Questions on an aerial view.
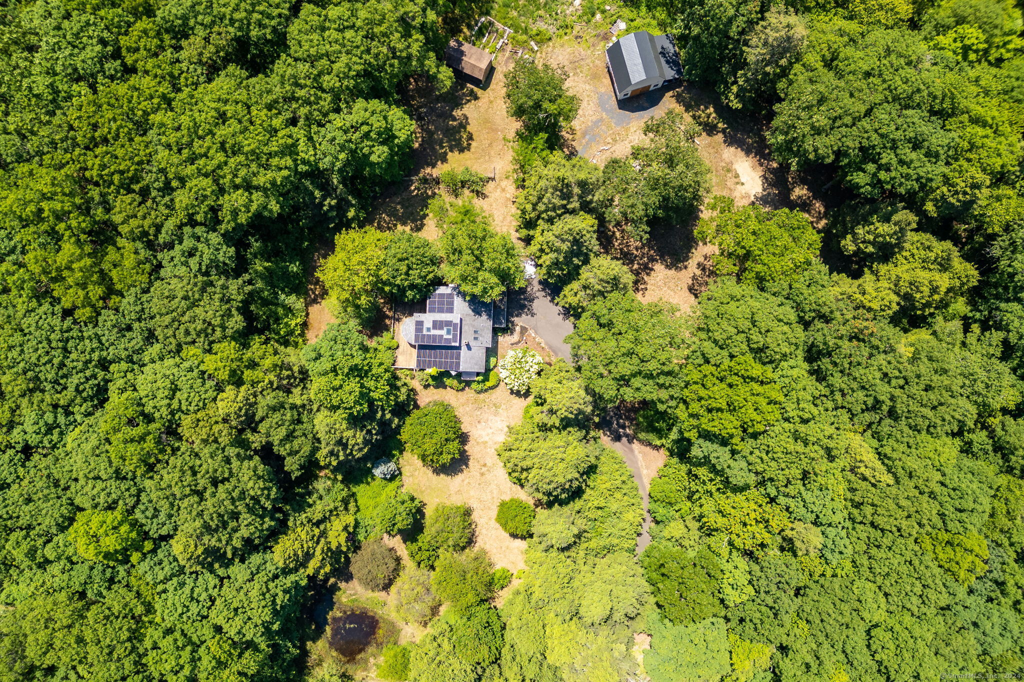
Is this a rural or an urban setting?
rural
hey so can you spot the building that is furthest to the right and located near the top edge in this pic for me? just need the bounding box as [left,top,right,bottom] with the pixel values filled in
[605,31,680,100]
